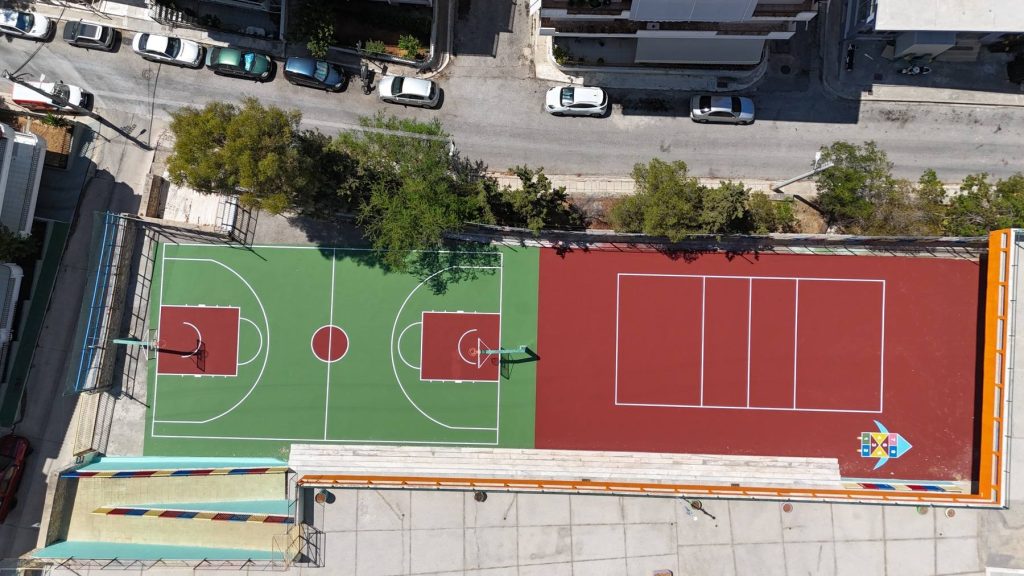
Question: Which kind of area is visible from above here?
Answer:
sports ground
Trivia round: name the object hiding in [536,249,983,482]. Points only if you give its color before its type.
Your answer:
red sports court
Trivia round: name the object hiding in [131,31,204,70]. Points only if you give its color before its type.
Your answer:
white car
